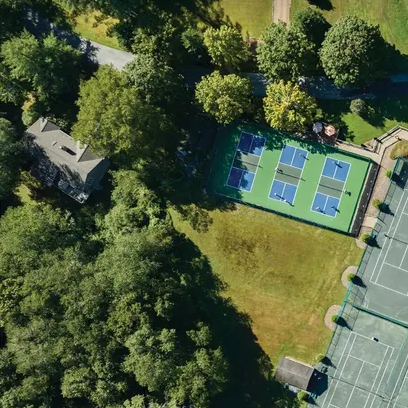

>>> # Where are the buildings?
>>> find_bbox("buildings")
[17,117,109,190]
[275,357,316,390]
